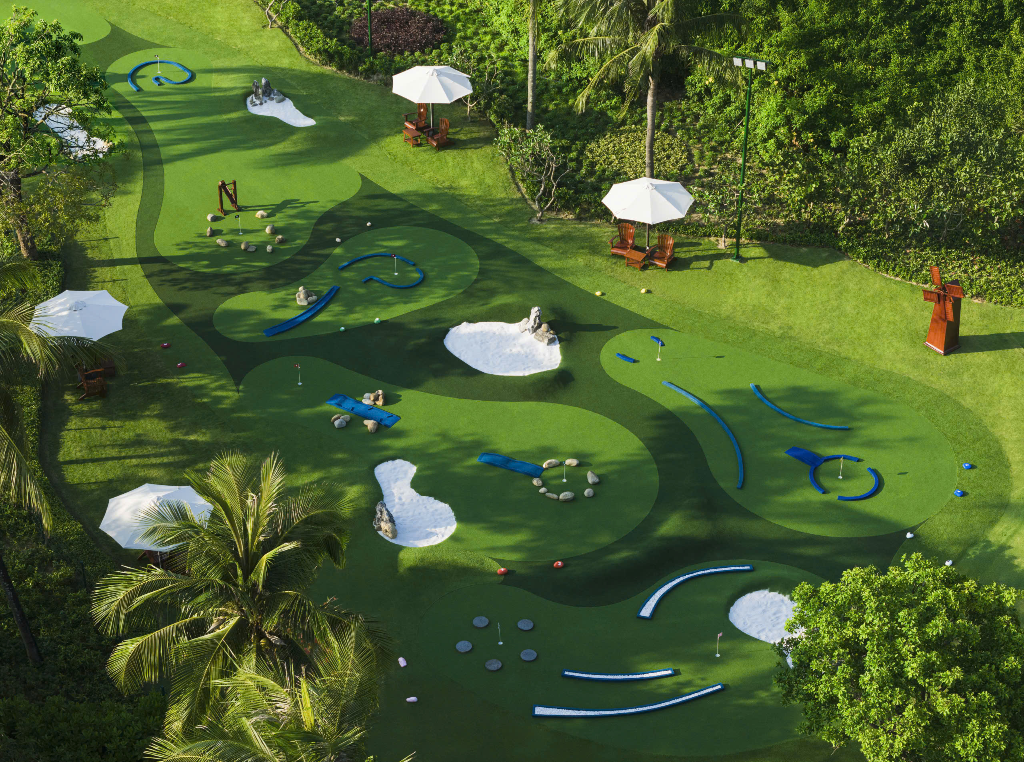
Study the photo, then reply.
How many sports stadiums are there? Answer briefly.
none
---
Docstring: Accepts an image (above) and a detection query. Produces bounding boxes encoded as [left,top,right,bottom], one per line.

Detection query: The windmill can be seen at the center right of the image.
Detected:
[914,266,971,355]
